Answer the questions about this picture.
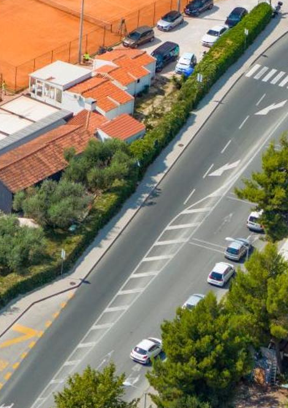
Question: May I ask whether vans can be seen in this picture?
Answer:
Yes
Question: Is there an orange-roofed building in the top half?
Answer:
Yes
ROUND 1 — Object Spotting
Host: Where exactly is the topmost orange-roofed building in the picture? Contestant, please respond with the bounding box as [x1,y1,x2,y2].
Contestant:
[65,48,157,120]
